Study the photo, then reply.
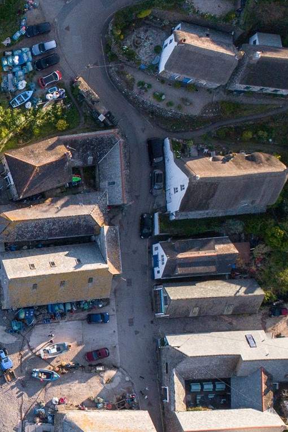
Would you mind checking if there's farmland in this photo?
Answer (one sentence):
No, there's no farmland in this view.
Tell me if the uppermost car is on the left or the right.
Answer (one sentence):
You can find the uppermost car on the left side of the picture.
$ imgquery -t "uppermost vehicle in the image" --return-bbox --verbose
[24,20,51,40]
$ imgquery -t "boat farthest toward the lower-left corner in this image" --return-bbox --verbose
[30,368,61,382]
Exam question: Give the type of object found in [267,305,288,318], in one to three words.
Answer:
vehicle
